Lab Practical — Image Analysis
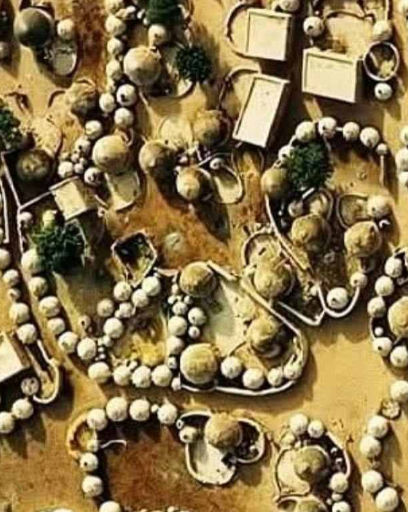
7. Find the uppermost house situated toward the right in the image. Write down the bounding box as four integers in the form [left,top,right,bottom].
[245,9,299,60]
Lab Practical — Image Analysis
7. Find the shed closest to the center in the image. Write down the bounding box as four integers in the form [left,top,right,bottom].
[180,260,219,297]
